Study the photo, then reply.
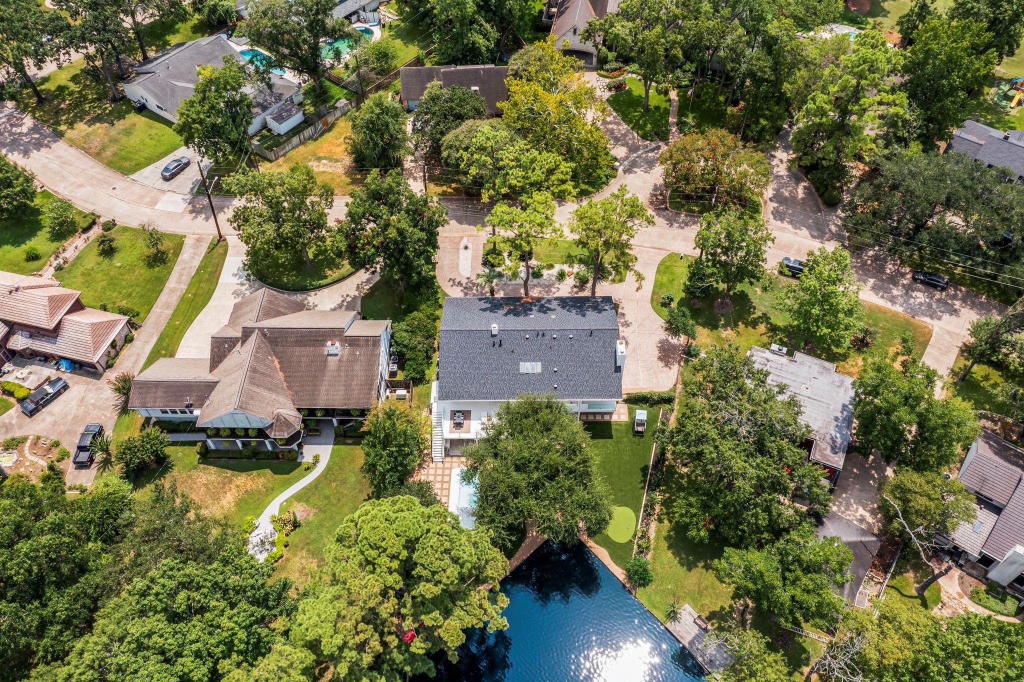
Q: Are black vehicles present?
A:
Yes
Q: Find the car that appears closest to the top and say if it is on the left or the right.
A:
left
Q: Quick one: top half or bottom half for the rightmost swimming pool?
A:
bottom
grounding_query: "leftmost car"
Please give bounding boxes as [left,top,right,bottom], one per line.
[17,380,65,416]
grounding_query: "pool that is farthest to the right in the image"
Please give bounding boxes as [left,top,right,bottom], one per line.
[449,469,507,532]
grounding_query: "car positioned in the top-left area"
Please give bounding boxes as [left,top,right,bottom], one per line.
[159,158,191,179]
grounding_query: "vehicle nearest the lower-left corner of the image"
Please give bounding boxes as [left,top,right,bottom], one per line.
[69,425,100,466]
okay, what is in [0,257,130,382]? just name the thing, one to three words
house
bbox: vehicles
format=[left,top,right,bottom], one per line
[17,380,65,416]
[915,271,951,291]
[69,425,100,466]
[159,158,191,179]
[780,258,813,278]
